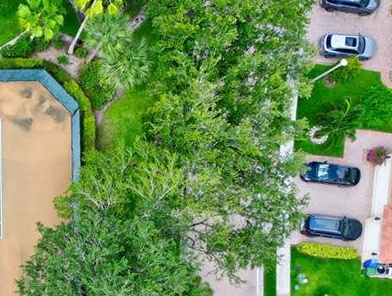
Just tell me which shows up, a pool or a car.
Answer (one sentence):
Looking from above, you can make out a car.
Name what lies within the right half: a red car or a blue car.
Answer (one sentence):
The feature located within the right half is a blue car.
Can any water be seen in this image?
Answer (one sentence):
No, there is no water in the image.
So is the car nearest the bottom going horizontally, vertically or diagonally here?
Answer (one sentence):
The car nearest the bottom runs horizontally in the image.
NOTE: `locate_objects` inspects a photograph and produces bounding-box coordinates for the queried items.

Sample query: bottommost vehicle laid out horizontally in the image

[300,214,361,241]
